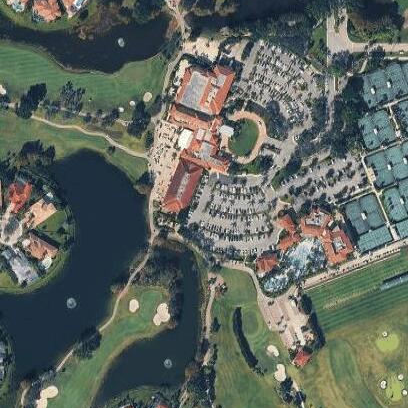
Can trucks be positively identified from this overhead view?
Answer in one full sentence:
No, I find no truck anywhere in the image.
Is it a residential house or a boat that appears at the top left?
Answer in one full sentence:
Looking at the top left, you will find a residential house.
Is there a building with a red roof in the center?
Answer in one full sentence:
Yes, a building with a red roof shows up in the center.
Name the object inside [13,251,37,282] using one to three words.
house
